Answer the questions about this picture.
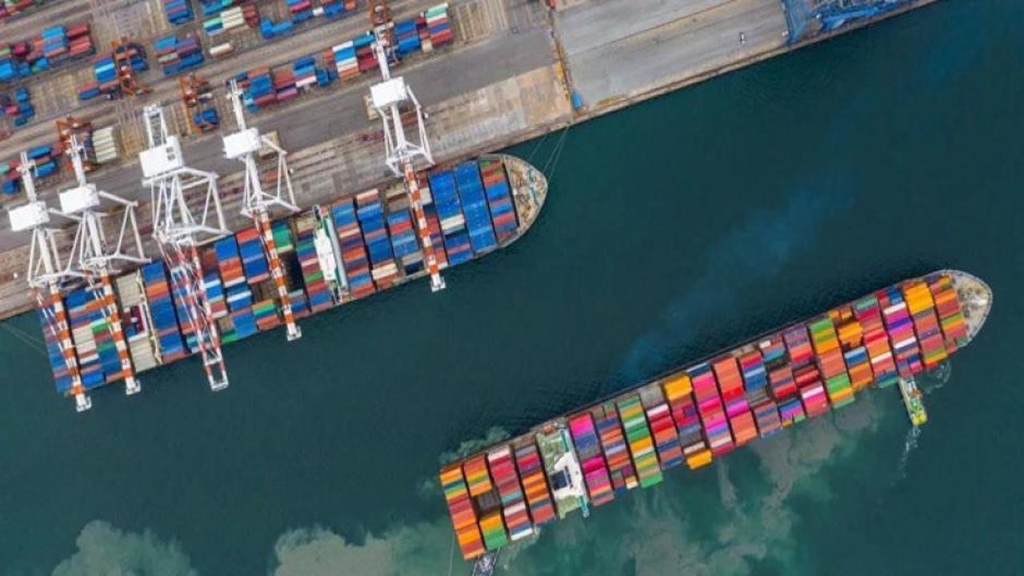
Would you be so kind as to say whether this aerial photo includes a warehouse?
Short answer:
No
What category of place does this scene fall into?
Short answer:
port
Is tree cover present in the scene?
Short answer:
No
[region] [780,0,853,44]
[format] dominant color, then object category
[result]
blue container crane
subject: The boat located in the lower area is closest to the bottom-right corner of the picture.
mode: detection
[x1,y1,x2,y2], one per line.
[898,372,927,427]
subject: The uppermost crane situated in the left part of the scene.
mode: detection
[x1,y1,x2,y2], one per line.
[369,0,408,61]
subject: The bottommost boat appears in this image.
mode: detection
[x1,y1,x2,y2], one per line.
[475,549,497,576]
